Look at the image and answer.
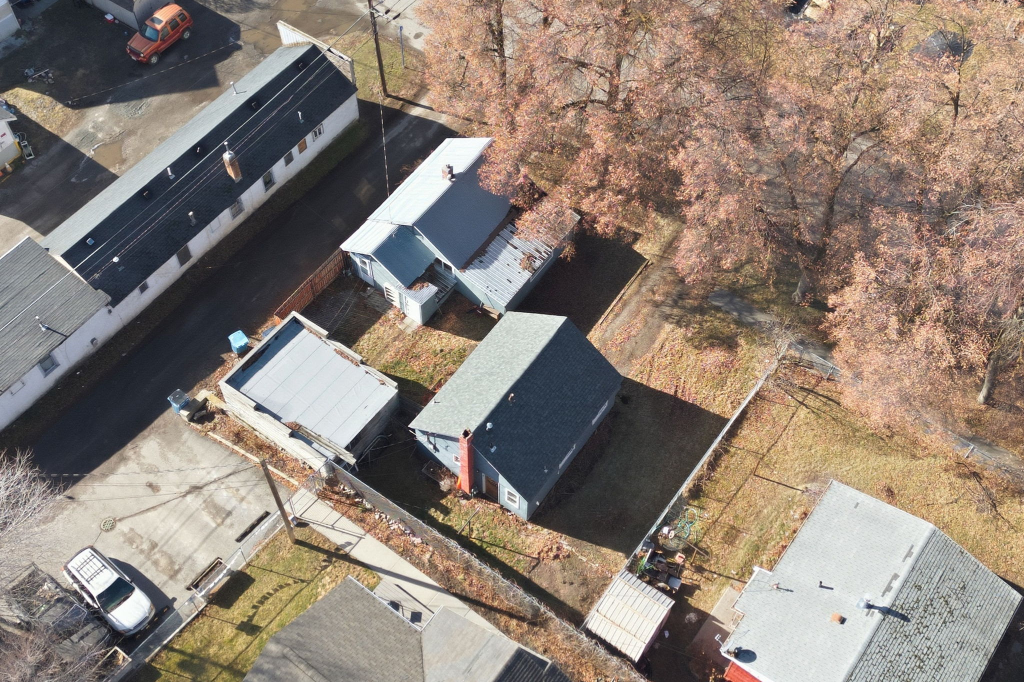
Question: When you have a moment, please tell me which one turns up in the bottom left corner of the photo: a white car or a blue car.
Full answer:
The feature located in the bottom left corner of the photo is a white car.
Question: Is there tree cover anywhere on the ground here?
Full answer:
Yes, there's tree cover in this view.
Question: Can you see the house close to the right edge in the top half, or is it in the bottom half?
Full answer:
The bottom half of the photo is where the house close to the right edge is.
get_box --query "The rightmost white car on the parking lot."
[57,542,159,635]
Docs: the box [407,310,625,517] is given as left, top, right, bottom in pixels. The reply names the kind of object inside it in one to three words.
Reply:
house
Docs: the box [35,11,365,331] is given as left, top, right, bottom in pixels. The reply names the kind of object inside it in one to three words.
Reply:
building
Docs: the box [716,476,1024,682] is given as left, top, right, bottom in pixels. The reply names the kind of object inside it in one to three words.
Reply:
house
